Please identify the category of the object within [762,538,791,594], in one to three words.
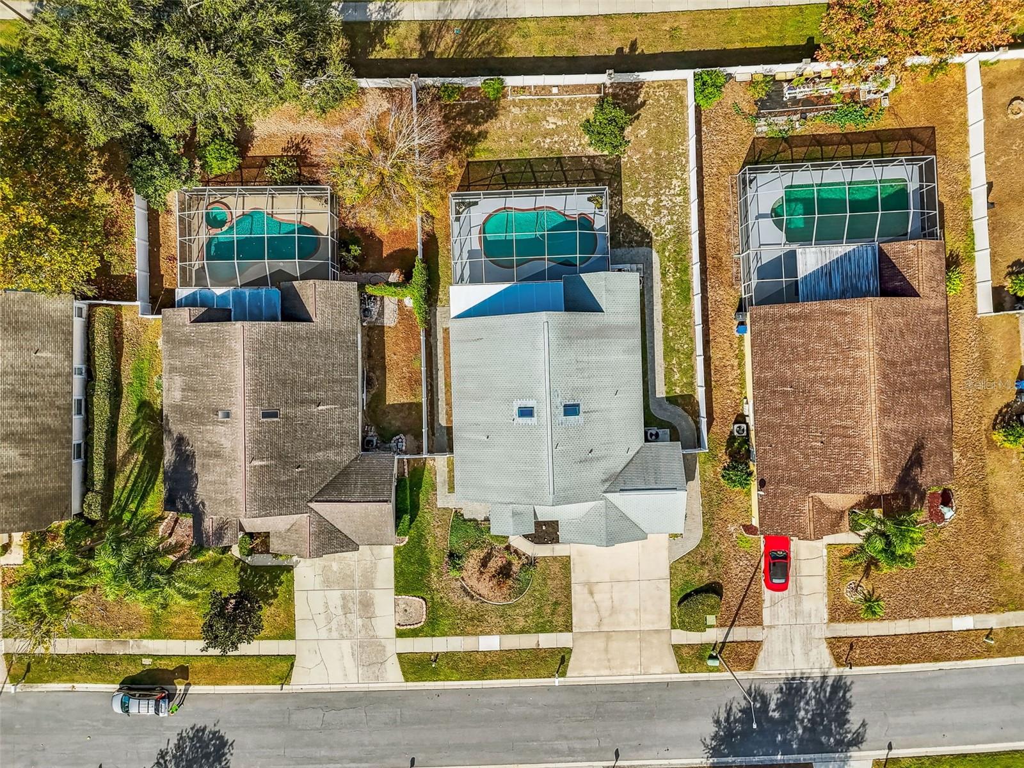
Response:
car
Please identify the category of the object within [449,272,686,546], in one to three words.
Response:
house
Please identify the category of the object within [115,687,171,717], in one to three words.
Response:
vehicle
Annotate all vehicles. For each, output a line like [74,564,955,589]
[115,687,171,717]
[762,538,791,594]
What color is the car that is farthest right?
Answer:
red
